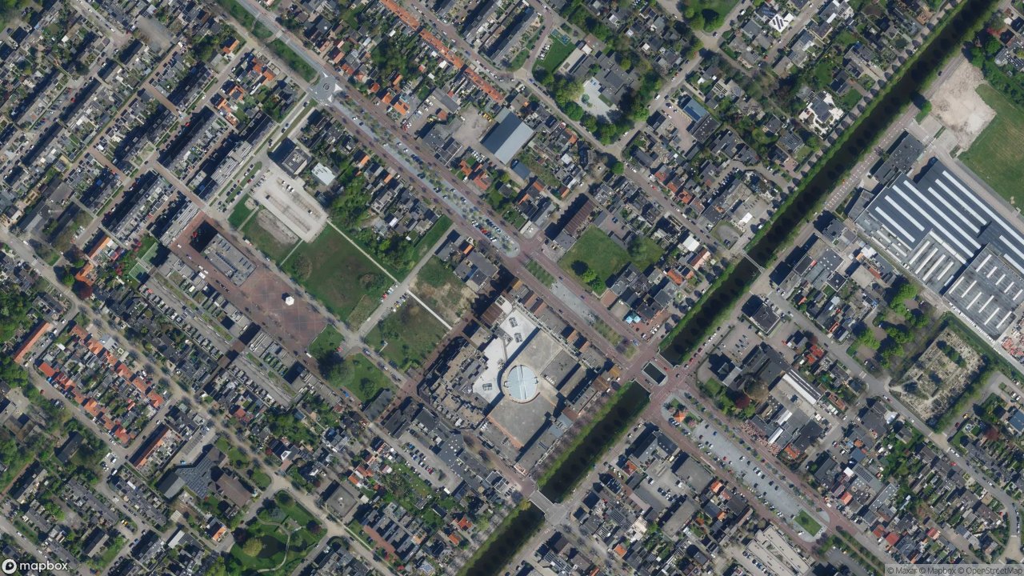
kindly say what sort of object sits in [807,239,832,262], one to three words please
building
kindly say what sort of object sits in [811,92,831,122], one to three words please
house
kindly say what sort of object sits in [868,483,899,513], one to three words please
building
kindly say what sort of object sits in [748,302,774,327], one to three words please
house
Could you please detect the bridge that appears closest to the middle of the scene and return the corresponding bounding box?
[632,347,680,396]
